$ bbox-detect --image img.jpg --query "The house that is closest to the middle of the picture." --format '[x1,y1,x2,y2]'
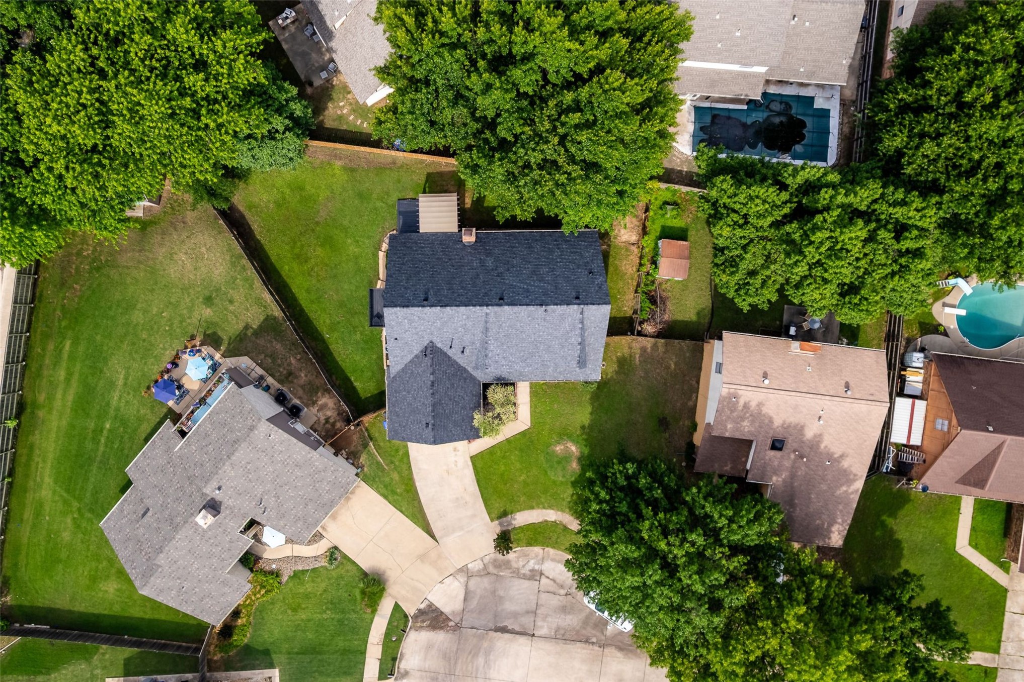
[370,228,610,445]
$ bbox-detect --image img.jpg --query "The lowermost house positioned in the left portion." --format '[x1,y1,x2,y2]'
[99,364,361,627]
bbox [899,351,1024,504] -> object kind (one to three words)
house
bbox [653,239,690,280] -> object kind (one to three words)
shed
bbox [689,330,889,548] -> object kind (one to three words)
house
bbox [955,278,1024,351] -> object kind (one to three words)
swimming pool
